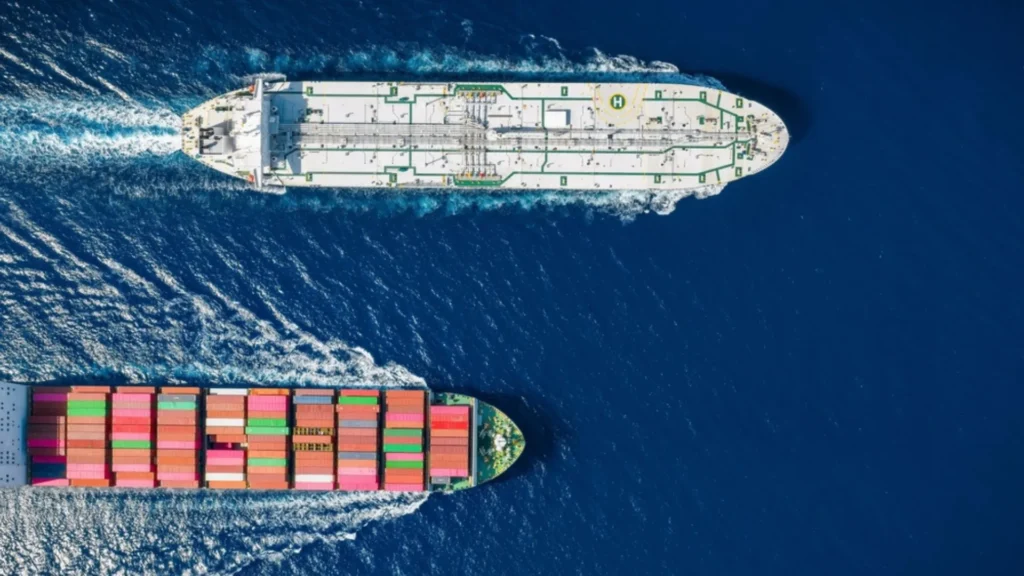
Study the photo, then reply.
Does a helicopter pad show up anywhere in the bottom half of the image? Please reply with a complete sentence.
No, looking in the bottom half of the image, there is no helicopter pad.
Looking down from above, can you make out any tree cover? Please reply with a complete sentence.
No, the picture contains no tree cover.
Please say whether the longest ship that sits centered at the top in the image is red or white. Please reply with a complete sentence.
The longest ship that sits centered at the top is white.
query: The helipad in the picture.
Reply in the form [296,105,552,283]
[590,85,647,126]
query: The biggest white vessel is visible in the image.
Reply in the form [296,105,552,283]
[182,75,790,193]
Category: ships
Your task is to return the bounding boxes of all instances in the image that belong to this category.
[0,380,525,491]
[182,75,790,193]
